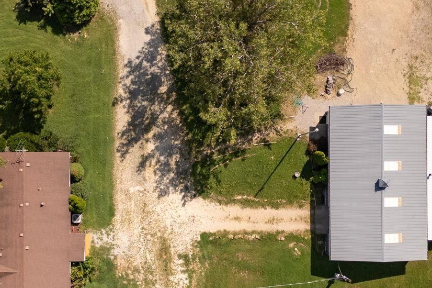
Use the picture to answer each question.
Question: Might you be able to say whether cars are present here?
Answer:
No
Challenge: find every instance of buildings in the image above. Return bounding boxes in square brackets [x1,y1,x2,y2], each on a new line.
[325,102,429,262]
[0,152,87,288]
